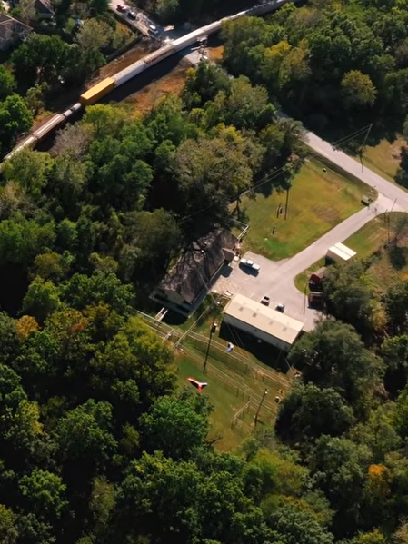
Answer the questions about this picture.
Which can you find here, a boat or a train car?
train car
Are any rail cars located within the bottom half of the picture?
No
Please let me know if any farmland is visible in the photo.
No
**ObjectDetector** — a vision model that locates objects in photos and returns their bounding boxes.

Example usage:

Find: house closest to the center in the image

[138,233,251,335]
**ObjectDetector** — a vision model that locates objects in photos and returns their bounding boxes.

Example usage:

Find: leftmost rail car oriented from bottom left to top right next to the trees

[2,136,36,166]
